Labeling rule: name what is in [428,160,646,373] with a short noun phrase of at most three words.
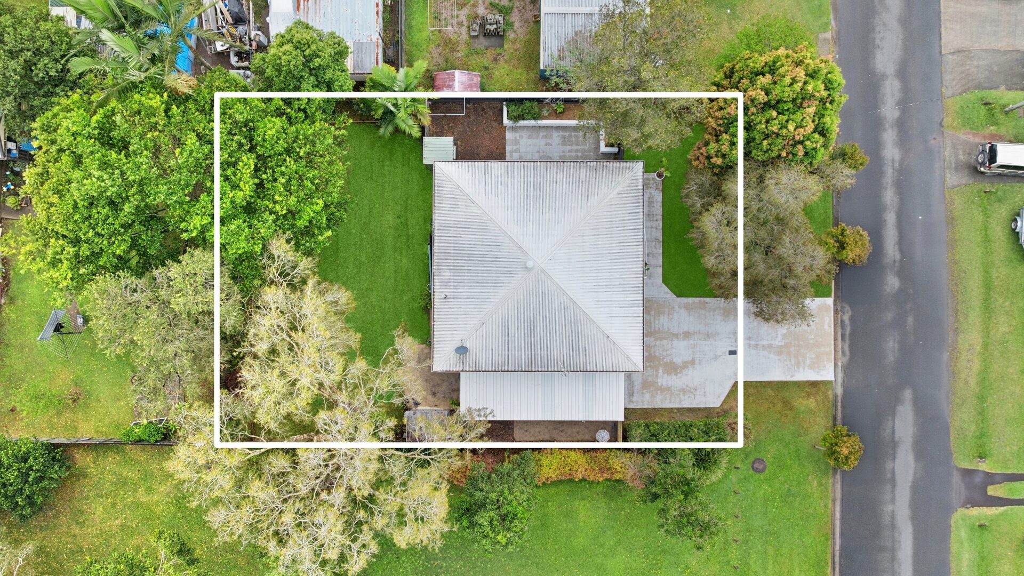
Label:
house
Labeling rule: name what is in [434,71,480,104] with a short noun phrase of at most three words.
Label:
shed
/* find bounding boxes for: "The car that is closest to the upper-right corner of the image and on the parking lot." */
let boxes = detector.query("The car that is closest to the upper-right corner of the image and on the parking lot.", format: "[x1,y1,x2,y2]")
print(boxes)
[973,142,1024,177]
